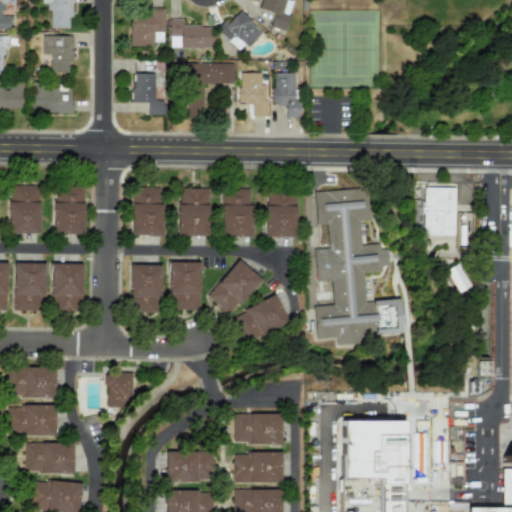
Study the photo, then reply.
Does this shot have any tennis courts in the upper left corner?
No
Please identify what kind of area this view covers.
residential area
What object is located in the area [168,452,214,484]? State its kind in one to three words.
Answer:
house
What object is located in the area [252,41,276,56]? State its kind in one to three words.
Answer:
swimming pool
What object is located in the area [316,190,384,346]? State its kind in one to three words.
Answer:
building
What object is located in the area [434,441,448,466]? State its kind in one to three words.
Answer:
tent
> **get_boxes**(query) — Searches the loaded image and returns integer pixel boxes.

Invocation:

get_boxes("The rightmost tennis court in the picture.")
[345,10,380,88]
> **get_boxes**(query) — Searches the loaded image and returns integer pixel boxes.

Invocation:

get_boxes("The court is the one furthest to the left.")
[310,10,345,88]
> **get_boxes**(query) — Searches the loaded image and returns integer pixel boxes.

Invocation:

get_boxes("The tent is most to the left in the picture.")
[412,433,428,484]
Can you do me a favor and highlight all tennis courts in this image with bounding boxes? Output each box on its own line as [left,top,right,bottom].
[310,10,345,88]
[345,10,380,88]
